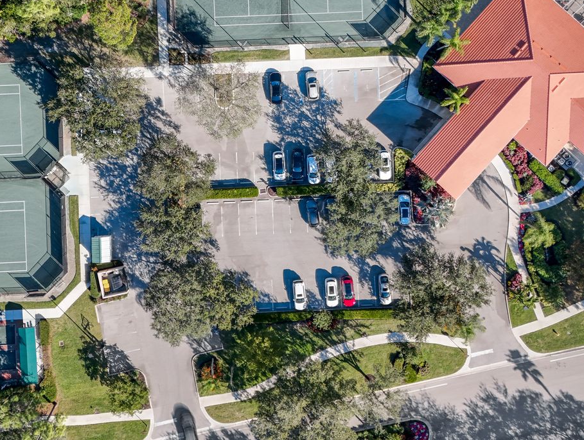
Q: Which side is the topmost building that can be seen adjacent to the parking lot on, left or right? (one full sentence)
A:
The topmost building that can be seen adjacent to the parking lot appears in the right half of the scene.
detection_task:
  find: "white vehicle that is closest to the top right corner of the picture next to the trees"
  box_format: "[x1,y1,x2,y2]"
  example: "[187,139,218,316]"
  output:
[379,150,392,181]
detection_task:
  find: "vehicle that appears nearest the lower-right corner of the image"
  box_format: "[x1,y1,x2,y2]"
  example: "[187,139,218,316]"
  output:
[379,274,392,305]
